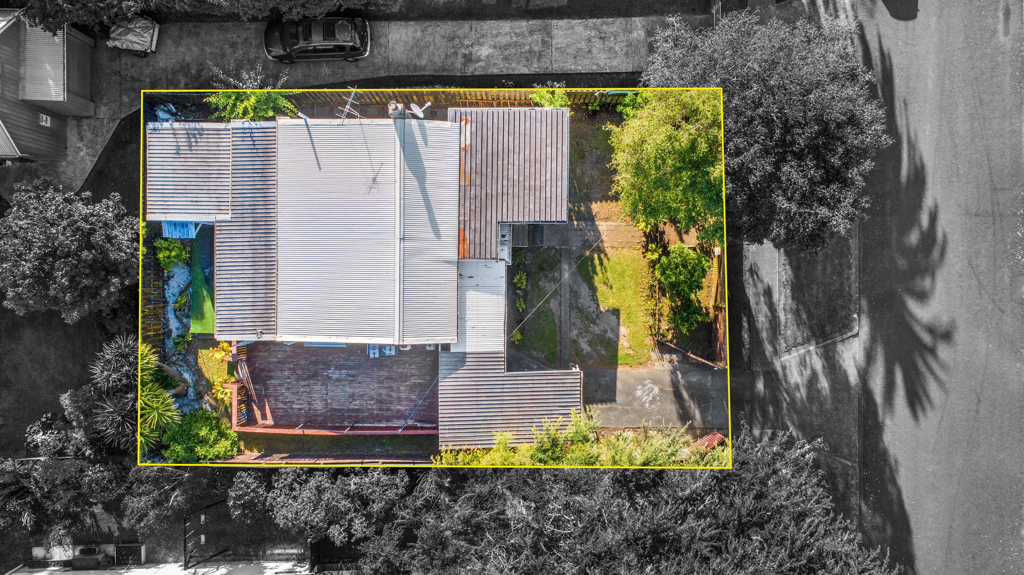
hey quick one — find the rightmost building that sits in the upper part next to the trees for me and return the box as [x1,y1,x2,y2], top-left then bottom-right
[146,97,571,351]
